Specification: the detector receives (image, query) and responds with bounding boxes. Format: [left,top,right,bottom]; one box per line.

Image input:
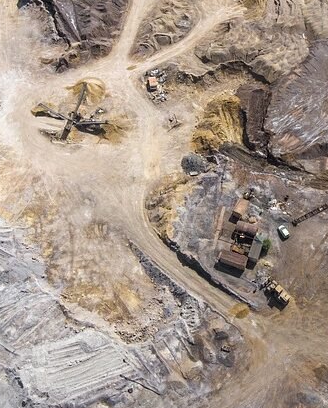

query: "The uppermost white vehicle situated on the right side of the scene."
[277,226,291,239]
